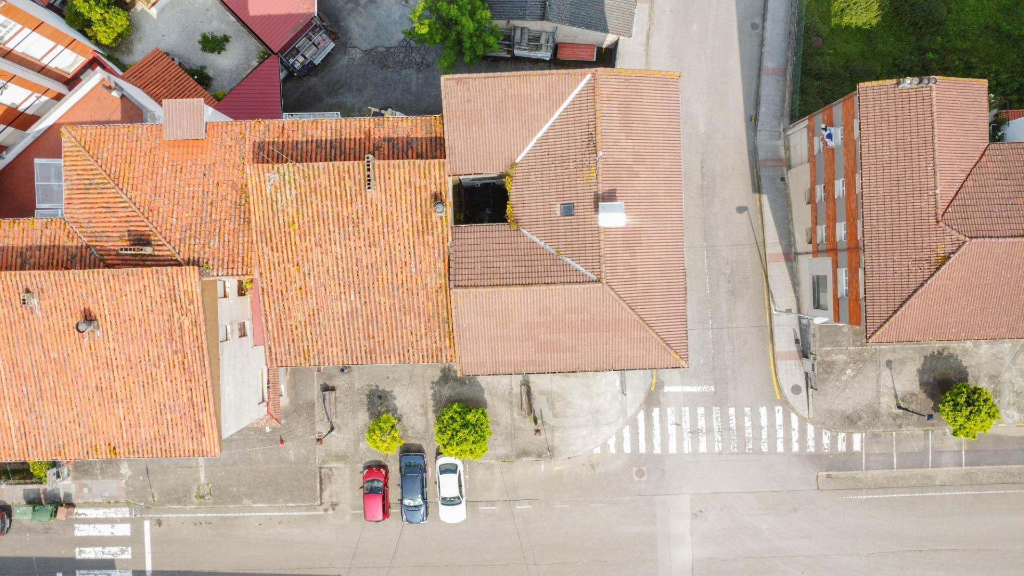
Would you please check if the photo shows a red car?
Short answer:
Yes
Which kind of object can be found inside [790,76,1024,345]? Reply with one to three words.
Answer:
building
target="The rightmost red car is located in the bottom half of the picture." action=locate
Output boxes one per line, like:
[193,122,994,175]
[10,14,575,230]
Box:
[361,464,391,522]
